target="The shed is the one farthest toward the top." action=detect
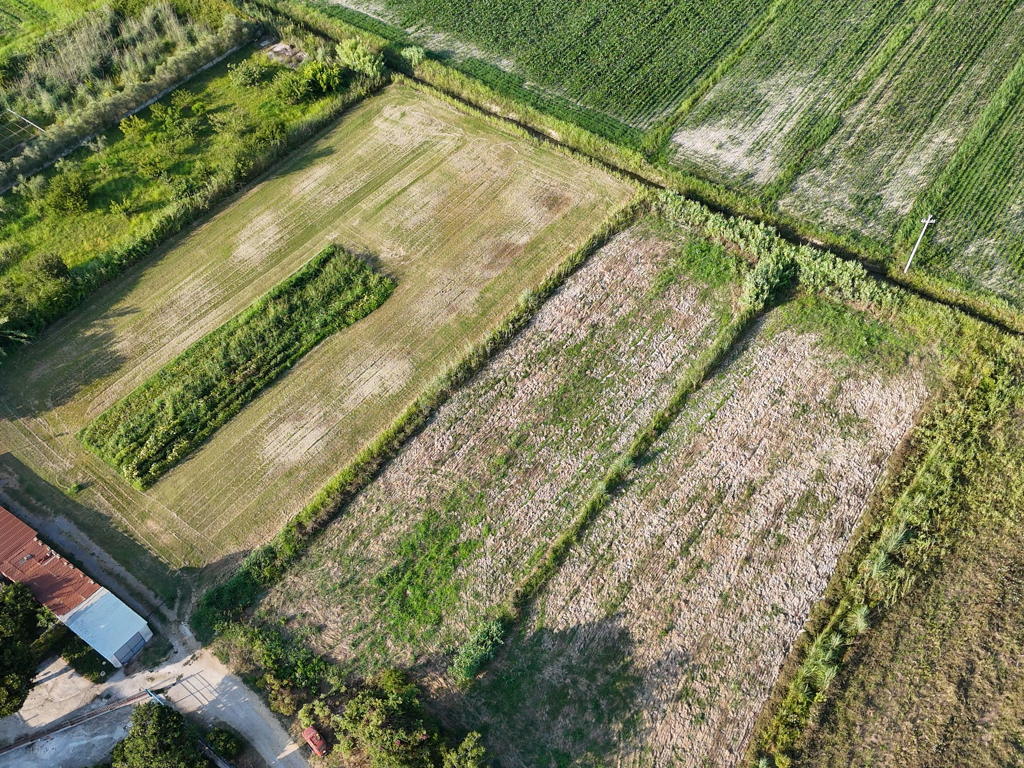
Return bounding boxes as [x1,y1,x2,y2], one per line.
[0,492,107,621]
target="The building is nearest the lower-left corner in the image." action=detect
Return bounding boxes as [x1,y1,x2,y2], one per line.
[70,589,156,669]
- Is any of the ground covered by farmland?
Yes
